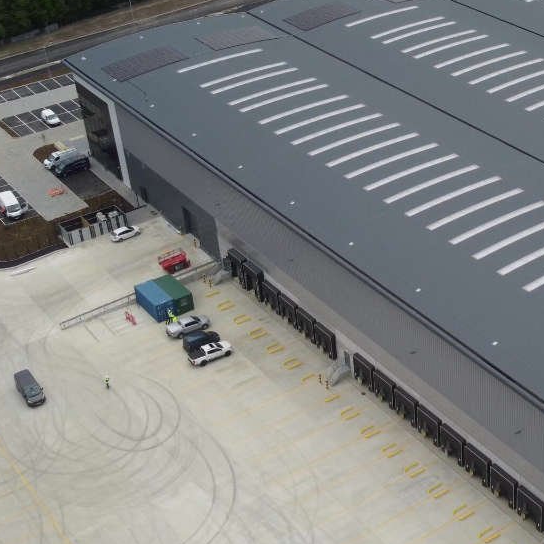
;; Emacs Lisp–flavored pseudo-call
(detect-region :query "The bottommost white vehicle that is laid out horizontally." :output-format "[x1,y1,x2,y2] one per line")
[187,343,234,367]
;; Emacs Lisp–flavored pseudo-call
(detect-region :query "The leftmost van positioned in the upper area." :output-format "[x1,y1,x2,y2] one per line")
[0,190,30,220]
